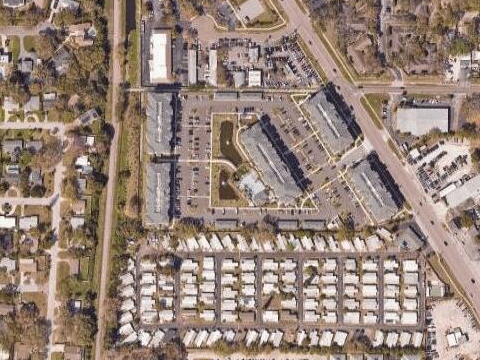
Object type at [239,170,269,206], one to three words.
building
